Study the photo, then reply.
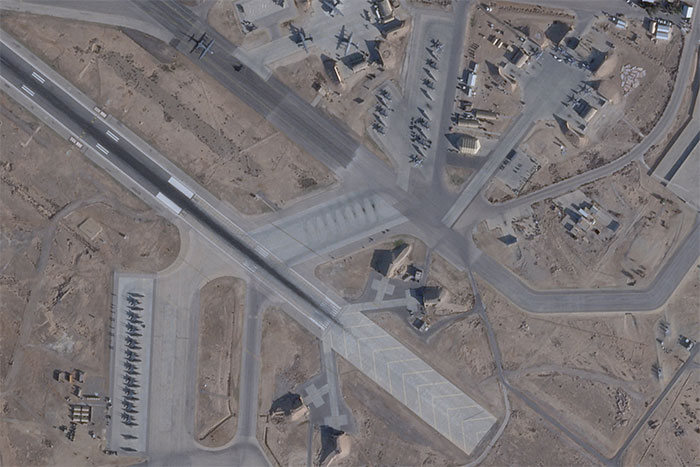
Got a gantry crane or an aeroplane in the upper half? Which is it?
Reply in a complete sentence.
Visible in the upper half is an aeroplane.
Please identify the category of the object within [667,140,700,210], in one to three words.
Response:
shed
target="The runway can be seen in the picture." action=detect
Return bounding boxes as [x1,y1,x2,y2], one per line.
[0,29,348,336]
